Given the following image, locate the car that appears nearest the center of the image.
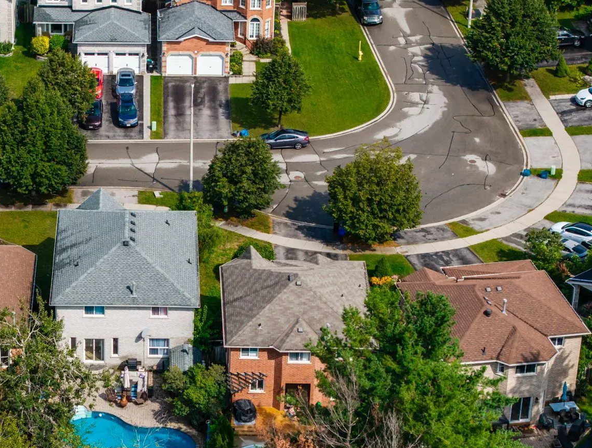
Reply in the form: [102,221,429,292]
[258,125,312,149]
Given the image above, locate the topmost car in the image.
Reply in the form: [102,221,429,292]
[357,0,382,23]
